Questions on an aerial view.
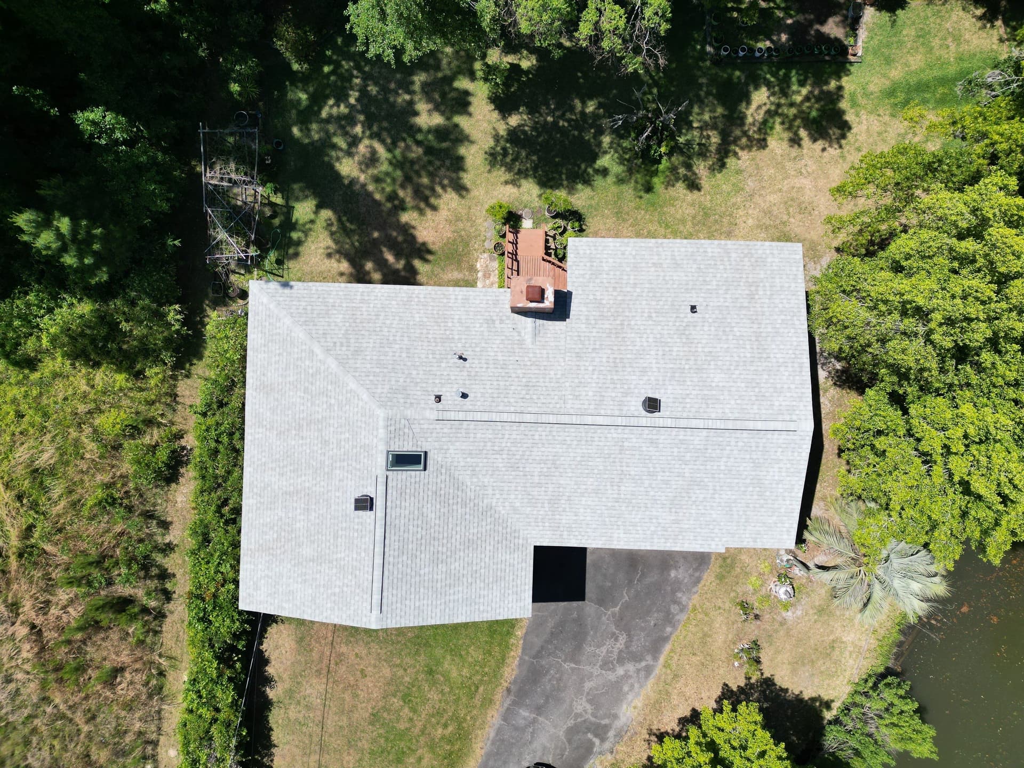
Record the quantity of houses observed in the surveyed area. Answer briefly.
1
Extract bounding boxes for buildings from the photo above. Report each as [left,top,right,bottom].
[240,237,815,629]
